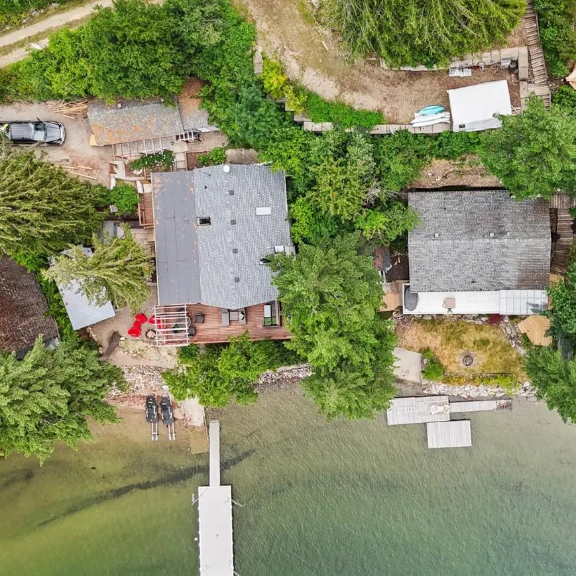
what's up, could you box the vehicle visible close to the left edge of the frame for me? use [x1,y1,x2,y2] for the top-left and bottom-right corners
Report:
[0,114,63,146]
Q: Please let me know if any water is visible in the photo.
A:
Yes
